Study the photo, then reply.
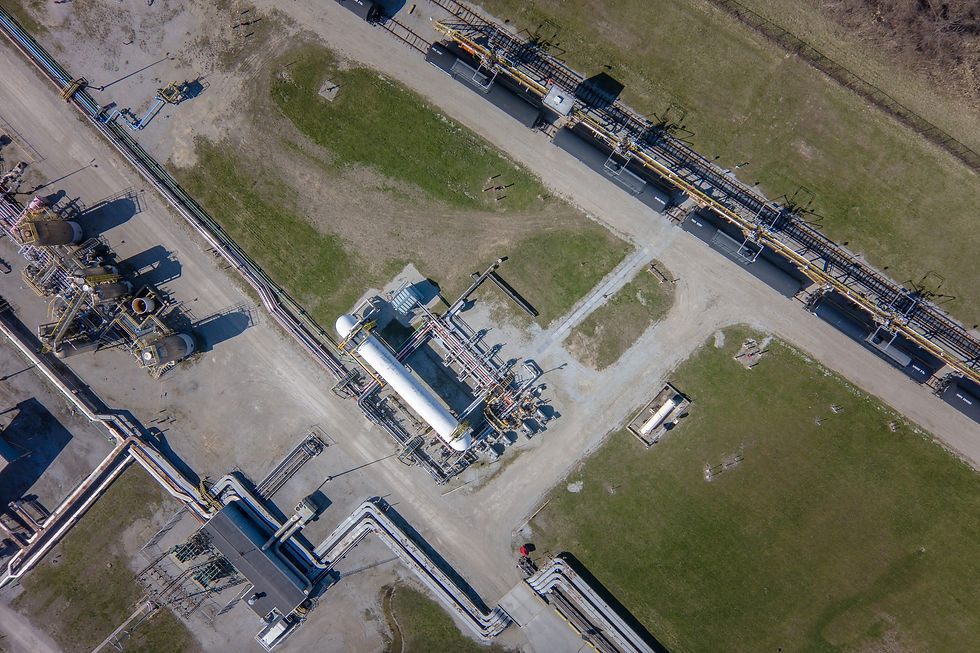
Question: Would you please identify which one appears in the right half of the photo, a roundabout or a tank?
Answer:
tank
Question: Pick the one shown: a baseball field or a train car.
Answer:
train car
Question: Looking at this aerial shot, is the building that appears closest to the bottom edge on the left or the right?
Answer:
left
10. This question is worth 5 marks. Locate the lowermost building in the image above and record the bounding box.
[203,505,317,619]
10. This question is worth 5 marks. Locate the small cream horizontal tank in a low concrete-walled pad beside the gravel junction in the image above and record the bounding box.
[627,382,691,446]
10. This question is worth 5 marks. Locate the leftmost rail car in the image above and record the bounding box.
[338,0,391,30]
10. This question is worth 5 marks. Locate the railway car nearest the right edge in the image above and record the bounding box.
[936,379,980,424]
